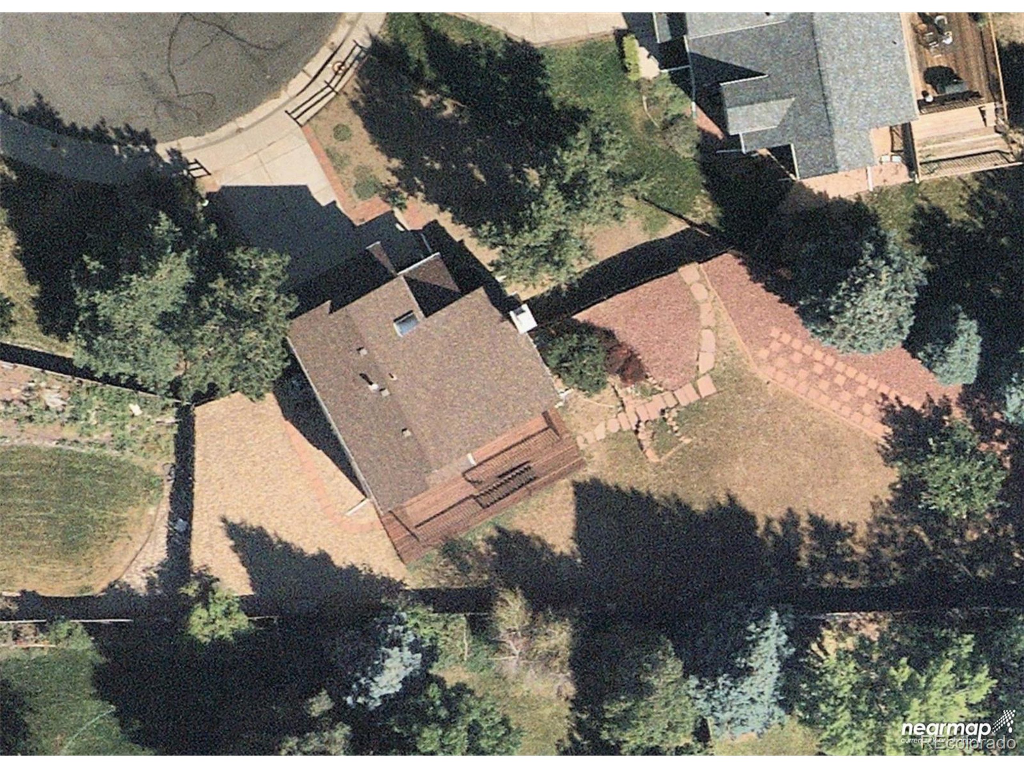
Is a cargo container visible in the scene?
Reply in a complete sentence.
No, this view has no cargo container in it.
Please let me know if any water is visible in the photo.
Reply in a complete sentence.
No, water can't be seen anywhere here.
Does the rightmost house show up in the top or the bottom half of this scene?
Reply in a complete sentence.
You can find the rightmost house in the top half.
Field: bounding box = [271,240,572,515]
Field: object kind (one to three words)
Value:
house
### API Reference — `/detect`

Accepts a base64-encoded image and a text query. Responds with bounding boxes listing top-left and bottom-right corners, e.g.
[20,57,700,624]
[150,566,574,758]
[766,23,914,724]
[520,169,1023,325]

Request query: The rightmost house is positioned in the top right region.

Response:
[676,0,920,192]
